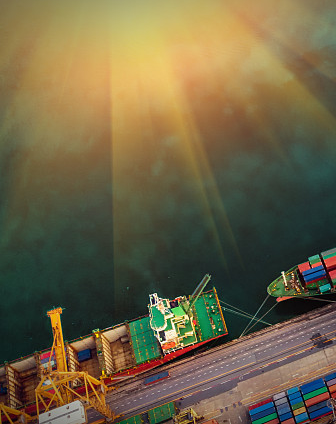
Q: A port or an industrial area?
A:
port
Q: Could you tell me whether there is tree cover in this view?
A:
No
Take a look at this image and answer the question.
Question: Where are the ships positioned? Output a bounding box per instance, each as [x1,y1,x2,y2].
[0,263,228,420]
[266,253,336,299]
